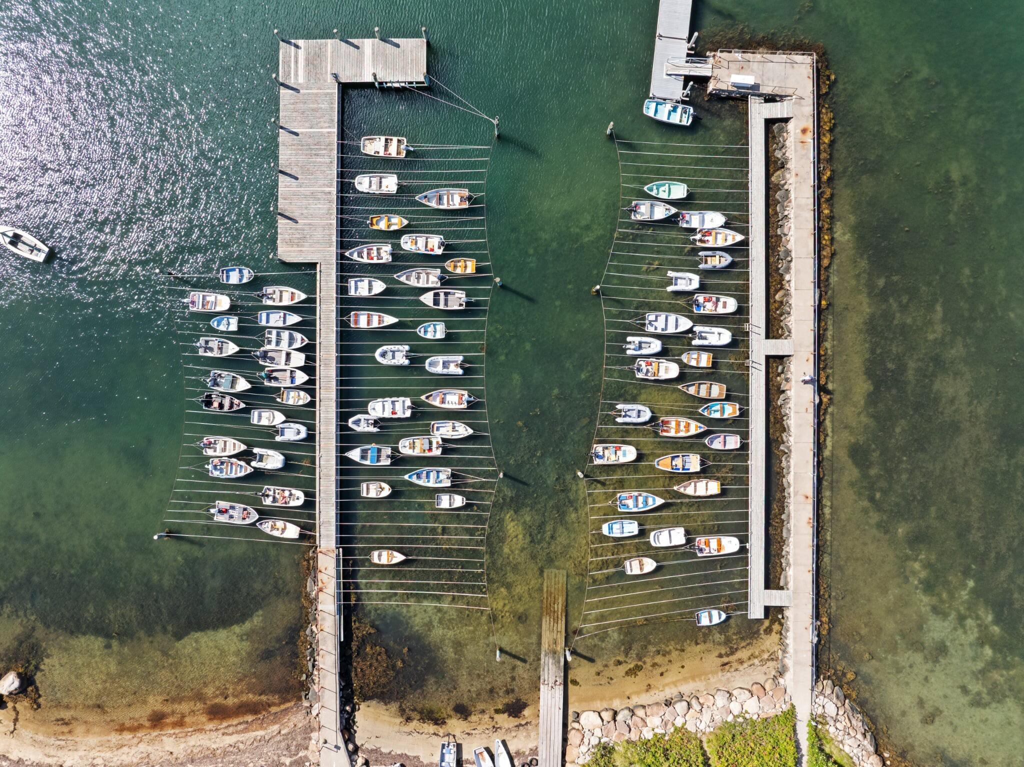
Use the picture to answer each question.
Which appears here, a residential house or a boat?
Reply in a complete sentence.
Looking from above, you can make out a boat.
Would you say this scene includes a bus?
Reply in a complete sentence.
No, no bus is visible in the scene.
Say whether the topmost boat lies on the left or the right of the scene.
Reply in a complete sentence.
The topmost boat is on the right side of the image.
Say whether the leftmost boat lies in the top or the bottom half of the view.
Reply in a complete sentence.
Seen from above, the leftmost boat lies in the top half of the view.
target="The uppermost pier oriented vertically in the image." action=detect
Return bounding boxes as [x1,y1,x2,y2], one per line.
[649,0,693,103]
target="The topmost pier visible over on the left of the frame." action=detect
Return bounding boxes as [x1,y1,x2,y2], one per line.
[278,39,426,604]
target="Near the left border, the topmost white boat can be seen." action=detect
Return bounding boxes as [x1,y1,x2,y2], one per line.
[0,228,52,262]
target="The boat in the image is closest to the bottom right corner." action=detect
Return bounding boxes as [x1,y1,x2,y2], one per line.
[694,610,726,626]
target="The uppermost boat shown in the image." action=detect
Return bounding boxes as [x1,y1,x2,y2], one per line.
[643,100,702,125]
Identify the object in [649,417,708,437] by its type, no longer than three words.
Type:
boat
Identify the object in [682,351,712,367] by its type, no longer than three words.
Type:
boat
